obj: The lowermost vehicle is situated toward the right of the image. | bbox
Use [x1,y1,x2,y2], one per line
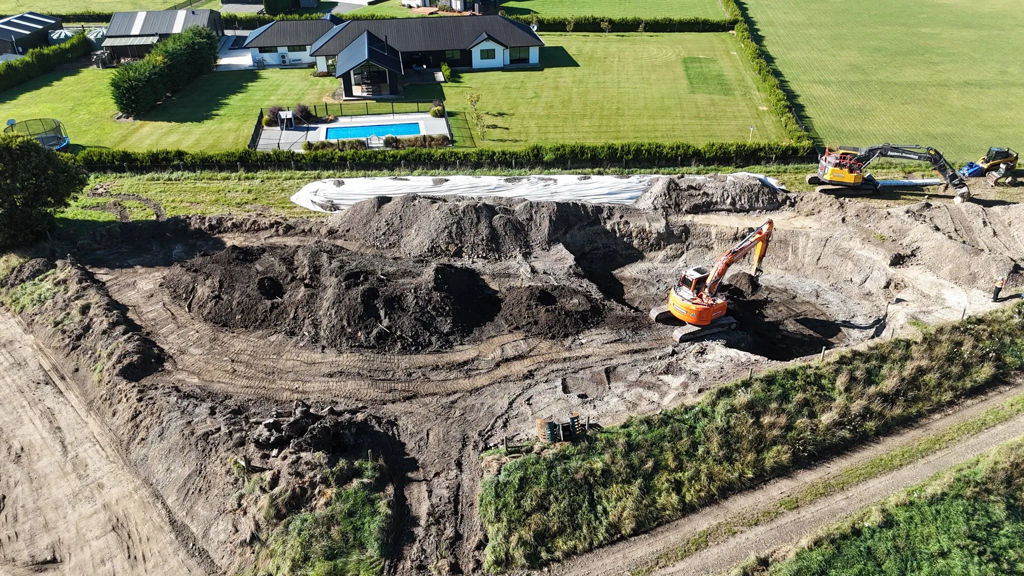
[650,212,779,347]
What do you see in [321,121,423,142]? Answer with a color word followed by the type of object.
blue swimming pool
